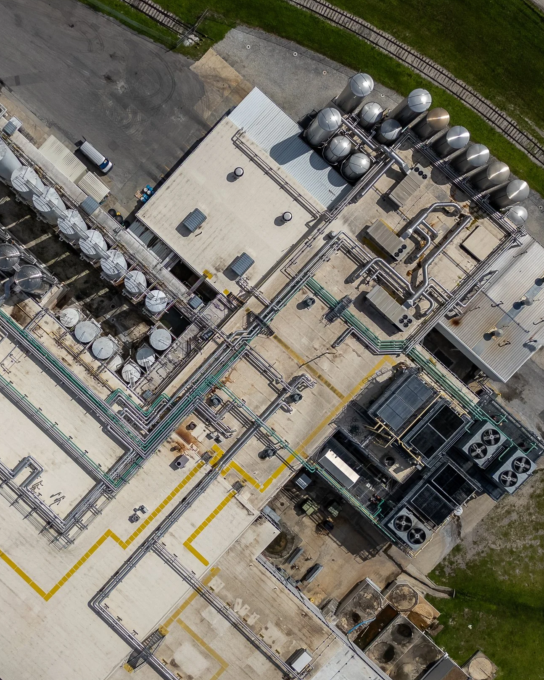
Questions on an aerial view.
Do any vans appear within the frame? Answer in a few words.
Yes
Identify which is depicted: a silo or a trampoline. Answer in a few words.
silo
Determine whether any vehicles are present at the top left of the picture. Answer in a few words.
Yes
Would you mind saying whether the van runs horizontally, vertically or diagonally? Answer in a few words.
diagonally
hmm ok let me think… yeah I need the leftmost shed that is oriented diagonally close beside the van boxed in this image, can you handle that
[39,135,88,182]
